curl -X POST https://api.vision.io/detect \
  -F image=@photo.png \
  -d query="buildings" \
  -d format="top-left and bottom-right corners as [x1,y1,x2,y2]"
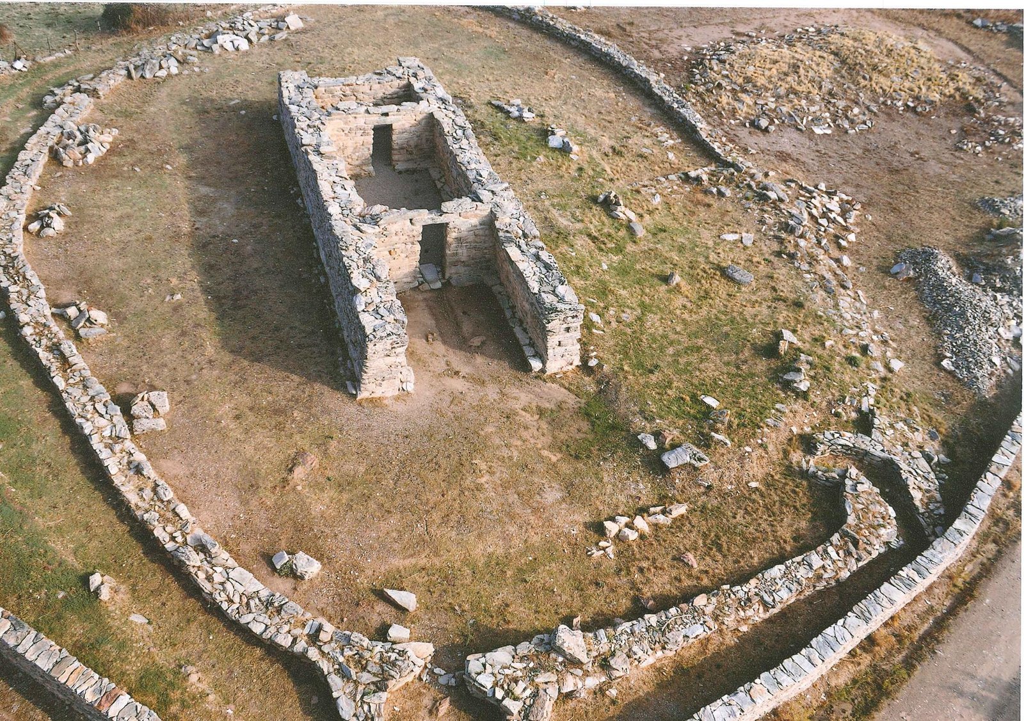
[276,54,587,400]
